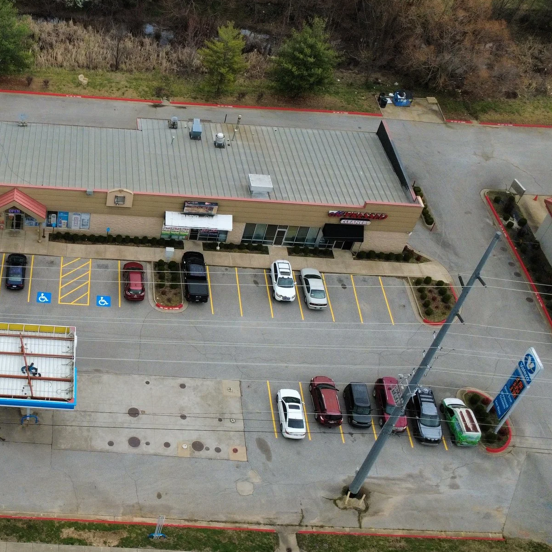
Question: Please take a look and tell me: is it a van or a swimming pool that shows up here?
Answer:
van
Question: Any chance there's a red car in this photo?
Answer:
Yes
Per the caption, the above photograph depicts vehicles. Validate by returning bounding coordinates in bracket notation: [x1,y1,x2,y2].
[273,260,301,305]
[370,374,408,431]
[340,373,375,429]
[181,252,208,302]
[408,387,444,445]
[273,384,307,436]
[3,253,26,291]
[308,373,346,424]
[121,262,145,304]
[437,396,481,445]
